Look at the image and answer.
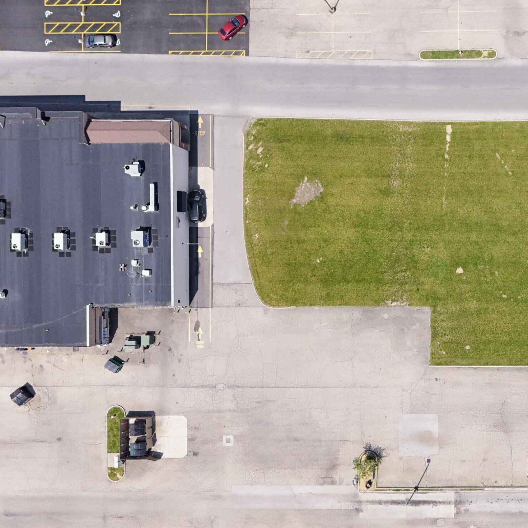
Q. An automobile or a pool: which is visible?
automobile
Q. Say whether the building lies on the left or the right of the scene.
left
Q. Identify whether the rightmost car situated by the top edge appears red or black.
red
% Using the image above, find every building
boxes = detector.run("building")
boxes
[0,107,195,348]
